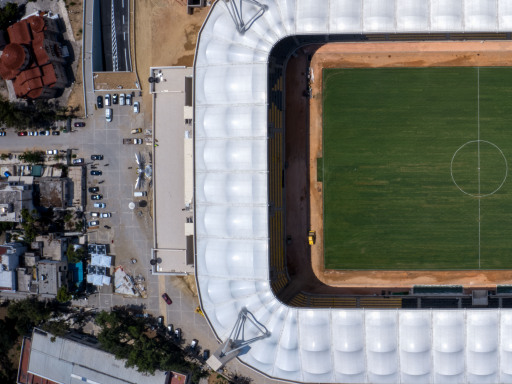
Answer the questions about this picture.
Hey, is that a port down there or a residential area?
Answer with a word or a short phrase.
residential area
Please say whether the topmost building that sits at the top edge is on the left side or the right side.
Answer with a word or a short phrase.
left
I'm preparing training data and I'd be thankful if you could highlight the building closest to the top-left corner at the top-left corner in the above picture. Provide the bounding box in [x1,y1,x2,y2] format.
[0,12,82,113]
